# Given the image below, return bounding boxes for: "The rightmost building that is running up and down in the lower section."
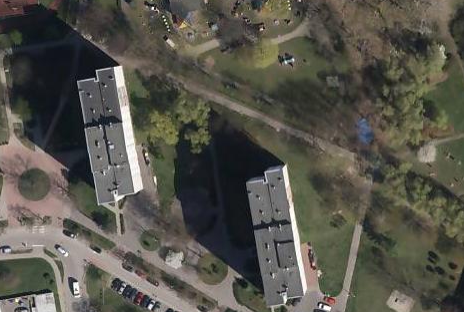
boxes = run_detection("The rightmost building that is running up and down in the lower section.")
[245,163,308,308]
